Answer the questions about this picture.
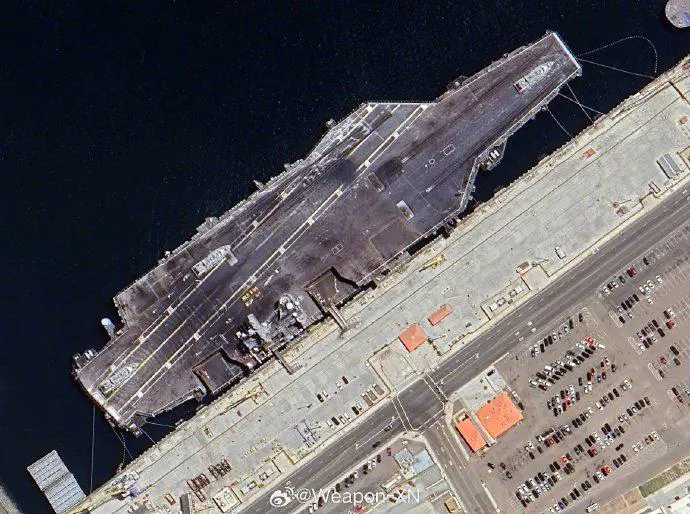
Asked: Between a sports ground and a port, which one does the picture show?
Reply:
port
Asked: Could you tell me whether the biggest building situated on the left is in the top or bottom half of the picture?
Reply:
bottom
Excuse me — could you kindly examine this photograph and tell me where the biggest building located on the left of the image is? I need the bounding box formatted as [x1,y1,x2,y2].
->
[214,487,241,513]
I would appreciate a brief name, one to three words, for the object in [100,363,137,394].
boat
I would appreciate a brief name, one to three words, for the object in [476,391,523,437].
building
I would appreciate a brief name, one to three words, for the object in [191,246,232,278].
boat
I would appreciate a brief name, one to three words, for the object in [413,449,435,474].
building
